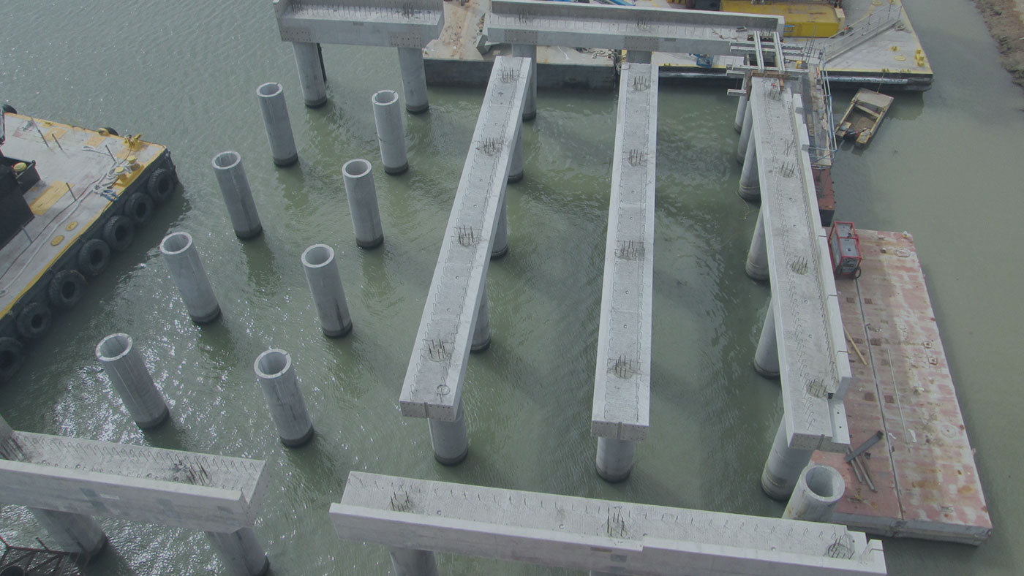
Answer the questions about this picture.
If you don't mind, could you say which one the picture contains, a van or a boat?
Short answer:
boat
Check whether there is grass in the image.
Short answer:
No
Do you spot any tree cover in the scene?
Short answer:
No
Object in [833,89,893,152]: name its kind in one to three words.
boat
